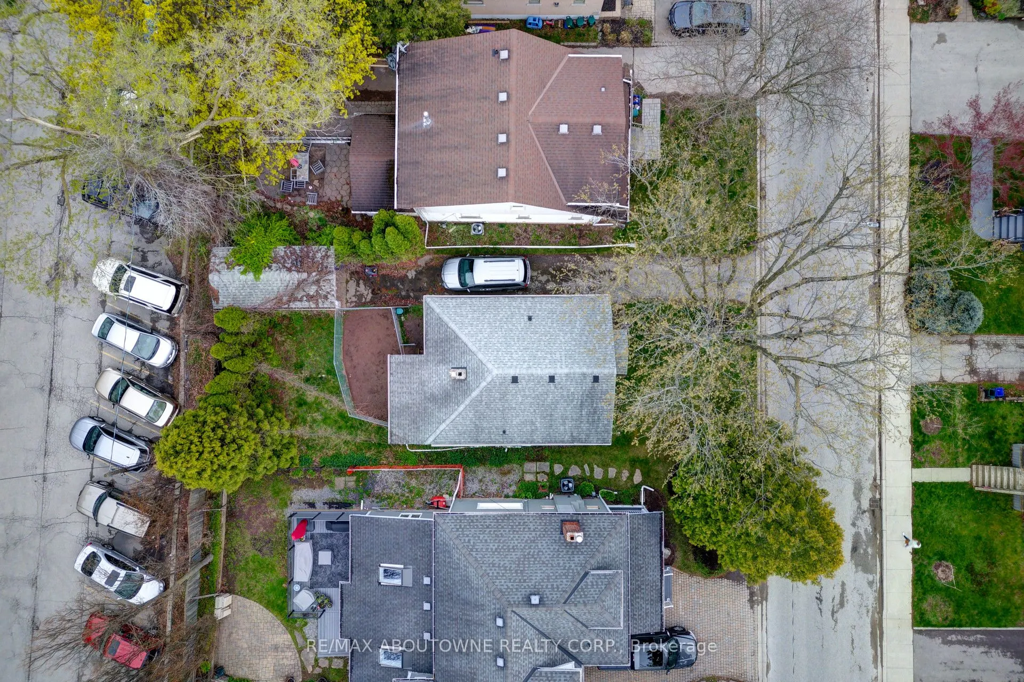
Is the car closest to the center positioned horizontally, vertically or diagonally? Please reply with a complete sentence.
The car closest to the center is laid out horizontally.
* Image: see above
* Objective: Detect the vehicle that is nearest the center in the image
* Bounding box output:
[441,252,532,293]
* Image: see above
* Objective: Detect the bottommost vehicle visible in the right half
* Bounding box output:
[627,626,697,673]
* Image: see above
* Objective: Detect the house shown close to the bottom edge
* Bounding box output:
[337,486,673,682]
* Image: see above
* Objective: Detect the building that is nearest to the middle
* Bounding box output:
[386,292,628,452]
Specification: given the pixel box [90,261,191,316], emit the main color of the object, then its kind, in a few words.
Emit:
white car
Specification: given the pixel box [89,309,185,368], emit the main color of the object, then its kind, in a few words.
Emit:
white car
